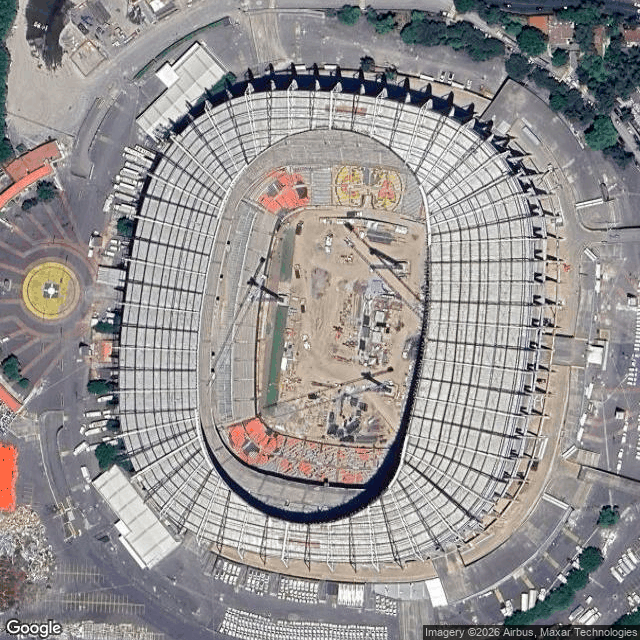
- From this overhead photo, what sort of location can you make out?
sports ground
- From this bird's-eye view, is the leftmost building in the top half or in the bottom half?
top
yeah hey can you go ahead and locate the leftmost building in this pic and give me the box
[5,141,65,181]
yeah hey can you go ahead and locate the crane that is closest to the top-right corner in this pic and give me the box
[344,237,422,319]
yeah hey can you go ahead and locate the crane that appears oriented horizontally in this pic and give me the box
[271,383,394,418]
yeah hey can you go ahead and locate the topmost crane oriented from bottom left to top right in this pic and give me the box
[209,275,288,382]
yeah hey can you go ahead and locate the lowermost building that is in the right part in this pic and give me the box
[426,578,449,607]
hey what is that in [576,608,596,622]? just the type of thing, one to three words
vehicle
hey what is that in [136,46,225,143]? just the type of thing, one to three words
building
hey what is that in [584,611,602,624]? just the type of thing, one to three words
vehicle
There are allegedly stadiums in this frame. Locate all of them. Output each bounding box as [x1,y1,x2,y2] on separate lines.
[114,82,562,572]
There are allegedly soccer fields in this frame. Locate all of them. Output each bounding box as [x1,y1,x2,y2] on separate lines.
[255,204,429,449]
